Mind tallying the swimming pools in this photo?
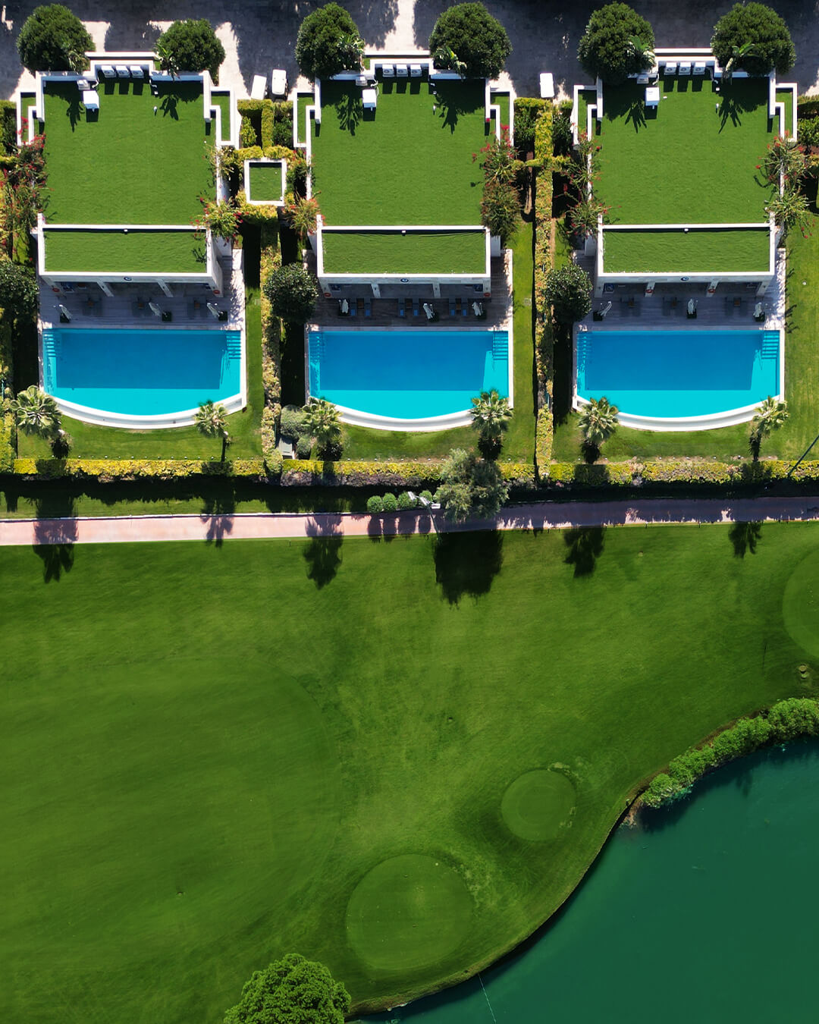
3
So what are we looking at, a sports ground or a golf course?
golf course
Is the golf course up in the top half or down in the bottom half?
bottom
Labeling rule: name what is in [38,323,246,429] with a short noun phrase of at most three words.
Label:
swimming pool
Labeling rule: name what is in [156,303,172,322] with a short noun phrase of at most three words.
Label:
umbrella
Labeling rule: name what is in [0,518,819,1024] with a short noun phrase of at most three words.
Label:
golf course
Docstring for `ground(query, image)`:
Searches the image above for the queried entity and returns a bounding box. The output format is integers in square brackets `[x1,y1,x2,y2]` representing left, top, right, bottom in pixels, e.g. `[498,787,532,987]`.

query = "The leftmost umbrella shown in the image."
[56,304,71,322]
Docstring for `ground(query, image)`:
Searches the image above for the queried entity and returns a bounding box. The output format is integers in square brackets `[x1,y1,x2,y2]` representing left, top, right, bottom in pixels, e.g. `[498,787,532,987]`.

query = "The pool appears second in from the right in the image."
[305,326,513,431]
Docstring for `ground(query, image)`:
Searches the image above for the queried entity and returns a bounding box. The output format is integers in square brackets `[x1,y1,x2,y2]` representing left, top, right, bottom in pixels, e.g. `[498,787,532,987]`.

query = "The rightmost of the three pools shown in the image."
[574,325,782,431]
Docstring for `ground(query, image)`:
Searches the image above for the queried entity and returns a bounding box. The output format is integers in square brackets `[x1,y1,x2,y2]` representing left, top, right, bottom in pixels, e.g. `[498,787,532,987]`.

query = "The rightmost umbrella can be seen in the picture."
[755,303,767,322]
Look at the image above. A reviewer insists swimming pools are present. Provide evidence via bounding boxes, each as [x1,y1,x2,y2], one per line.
[38,323,246,429]
[305,326,513,431]
[574,325,782,431]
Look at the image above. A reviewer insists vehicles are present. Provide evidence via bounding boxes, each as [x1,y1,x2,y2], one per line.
[539,72,555,100]
[272,69,289,103]
[250,74,270,103]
